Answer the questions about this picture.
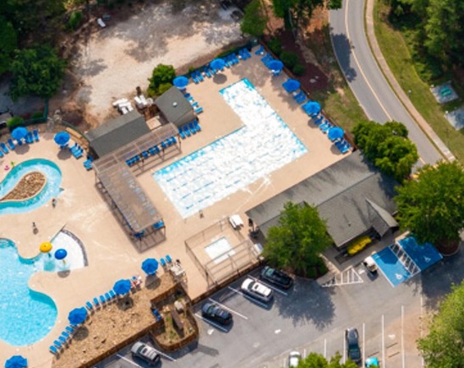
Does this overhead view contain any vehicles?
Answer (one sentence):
Yes, this view includes a vehicle.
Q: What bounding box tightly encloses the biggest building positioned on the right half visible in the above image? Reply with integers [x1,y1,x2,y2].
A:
[246,154,404,251]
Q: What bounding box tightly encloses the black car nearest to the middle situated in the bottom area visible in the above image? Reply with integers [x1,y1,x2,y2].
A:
[262,268,294,291]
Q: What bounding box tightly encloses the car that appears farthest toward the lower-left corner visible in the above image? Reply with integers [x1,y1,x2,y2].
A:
[130,343,162,367]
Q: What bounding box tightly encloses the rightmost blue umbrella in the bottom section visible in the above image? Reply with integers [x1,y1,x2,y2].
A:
[140,259,161,278]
